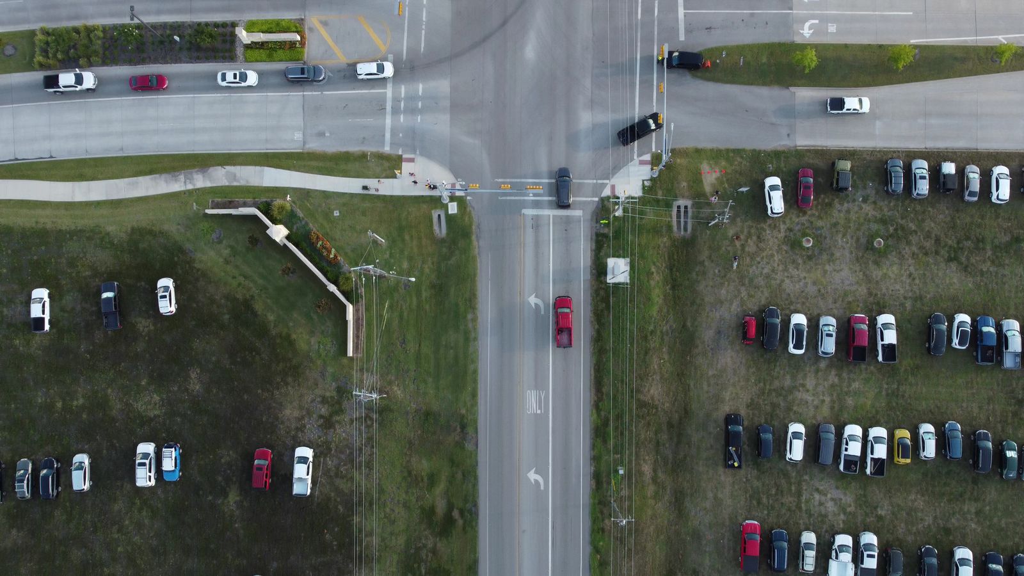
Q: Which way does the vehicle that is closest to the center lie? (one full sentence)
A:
The vehicle that is closest to the center runs vertically in the image.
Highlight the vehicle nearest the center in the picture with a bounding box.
[554,296,574,349]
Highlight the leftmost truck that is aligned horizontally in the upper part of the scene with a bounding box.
[40,69,100,94]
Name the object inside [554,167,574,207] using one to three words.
car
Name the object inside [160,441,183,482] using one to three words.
vehicle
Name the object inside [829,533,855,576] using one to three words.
truck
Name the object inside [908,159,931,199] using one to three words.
car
